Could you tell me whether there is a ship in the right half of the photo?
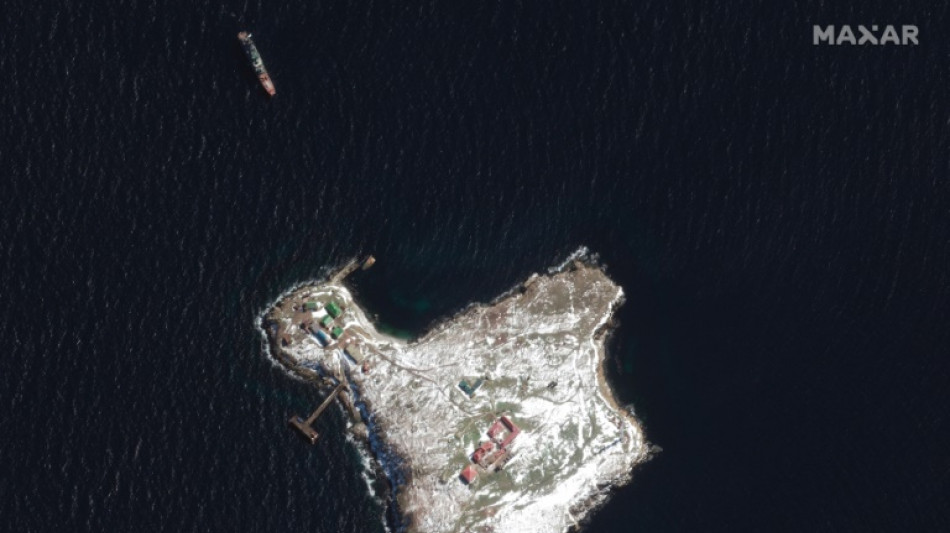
No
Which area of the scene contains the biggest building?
bottom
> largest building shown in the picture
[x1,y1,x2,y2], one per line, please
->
[486,415,521,448]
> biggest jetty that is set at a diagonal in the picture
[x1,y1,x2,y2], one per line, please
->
[289,382,345,439]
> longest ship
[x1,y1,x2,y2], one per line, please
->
[238,34,276,95]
